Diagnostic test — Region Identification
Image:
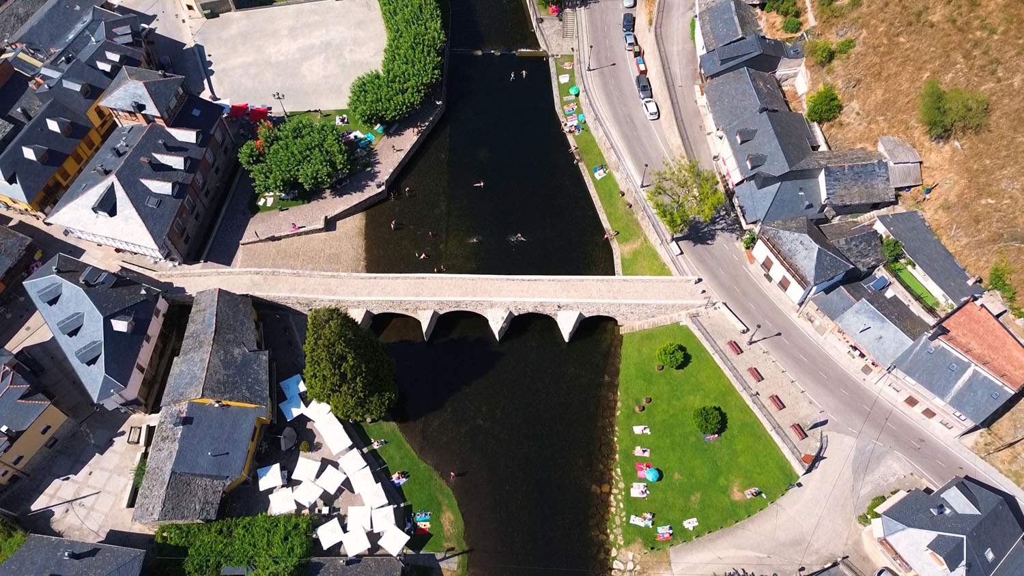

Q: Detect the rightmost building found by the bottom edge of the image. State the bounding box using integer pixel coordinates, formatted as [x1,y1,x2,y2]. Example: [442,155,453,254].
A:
[866,476,1024,576]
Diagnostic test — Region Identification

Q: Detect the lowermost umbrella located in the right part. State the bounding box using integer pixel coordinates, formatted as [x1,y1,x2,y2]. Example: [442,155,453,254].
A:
[648,468,663,483]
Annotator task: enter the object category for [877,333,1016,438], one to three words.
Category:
house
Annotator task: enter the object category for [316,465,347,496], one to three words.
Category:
umbrella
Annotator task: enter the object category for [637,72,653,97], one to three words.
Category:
car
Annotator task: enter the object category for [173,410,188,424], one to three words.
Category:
chimney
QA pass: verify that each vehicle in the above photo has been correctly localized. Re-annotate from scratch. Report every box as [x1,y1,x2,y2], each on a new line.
[623,13,636,31]
[624,28,639,50]
[642,97,661,120]
[637,72,653,97]
[624,0,635,8]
